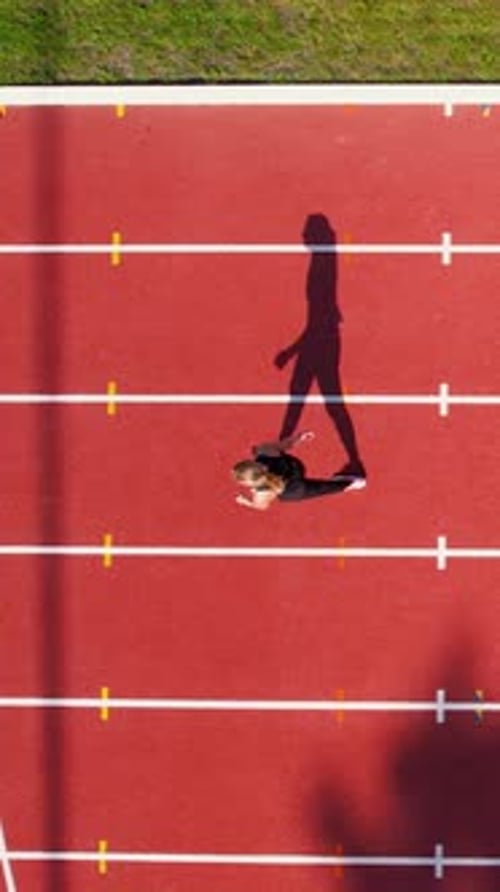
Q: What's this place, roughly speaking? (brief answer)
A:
sports ground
